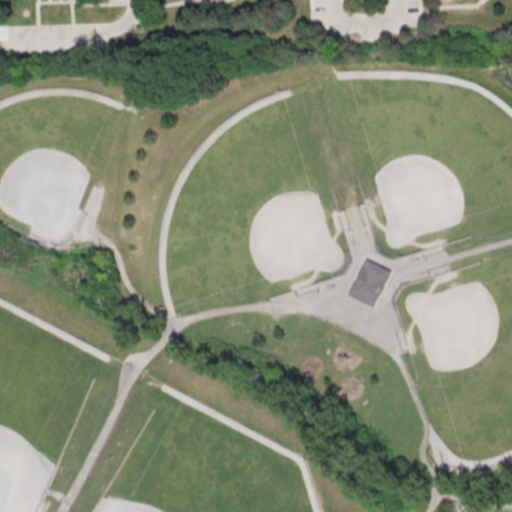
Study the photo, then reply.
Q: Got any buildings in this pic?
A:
Yes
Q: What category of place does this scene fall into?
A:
sports ground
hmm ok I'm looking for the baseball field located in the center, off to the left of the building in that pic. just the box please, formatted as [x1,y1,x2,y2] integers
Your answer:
[160,89,345,324]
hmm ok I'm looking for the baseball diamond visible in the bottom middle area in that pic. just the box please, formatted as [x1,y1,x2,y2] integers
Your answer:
[92,384,321,512]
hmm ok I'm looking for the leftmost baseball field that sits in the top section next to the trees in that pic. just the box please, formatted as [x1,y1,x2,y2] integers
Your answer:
[0,88,124,250]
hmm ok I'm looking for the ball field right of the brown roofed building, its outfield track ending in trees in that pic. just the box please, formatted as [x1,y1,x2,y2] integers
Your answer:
[406,273,512,472]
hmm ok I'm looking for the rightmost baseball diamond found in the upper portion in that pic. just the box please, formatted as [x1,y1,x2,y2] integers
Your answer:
[337,70,512,250]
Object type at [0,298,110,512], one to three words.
baseball field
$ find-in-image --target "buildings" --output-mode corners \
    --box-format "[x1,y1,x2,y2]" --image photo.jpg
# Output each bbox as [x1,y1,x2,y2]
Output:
[349,258,391,306]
